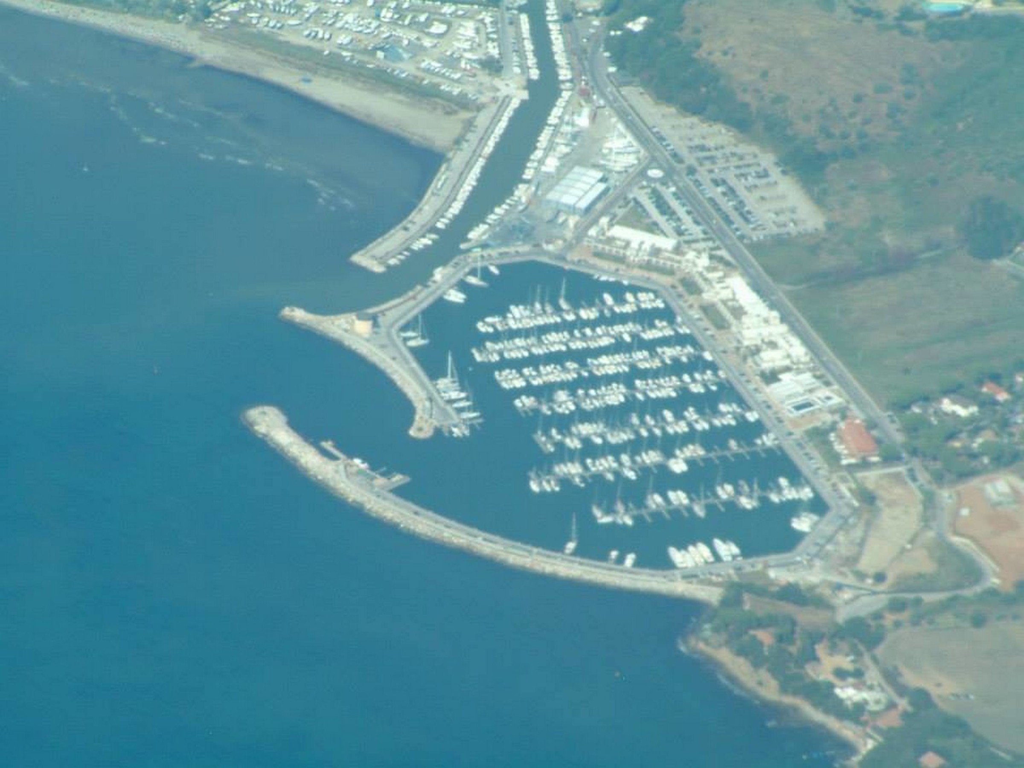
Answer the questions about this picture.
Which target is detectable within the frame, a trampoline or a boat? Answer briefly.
boat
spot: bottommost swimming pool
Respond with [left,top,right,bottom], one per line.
[789,401,817,413]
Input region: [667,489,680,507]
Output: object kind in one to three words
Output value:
boat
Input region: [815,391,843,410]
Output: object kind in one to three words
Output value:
building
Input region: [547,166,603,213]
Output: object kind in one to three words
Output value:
shed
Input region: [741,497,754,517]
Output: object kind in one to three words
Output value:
boat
